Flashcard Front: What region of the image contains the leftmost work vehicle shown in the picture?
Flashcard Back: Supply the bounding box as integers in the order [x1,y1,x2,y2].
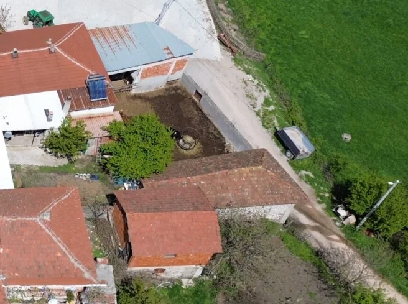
[22,7,59,29]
